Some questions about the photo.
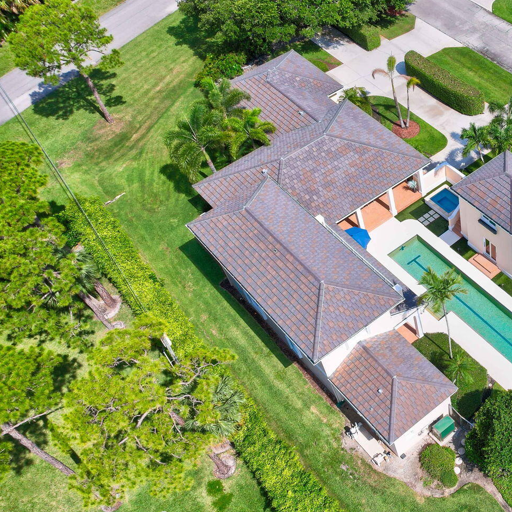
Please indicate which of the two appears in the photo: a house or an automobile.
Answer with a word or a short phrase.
house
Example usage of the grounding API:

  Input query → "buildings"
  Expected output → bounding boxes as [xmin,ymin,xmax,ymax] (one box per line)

[448,148,512,279]
[185,49,459,458]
